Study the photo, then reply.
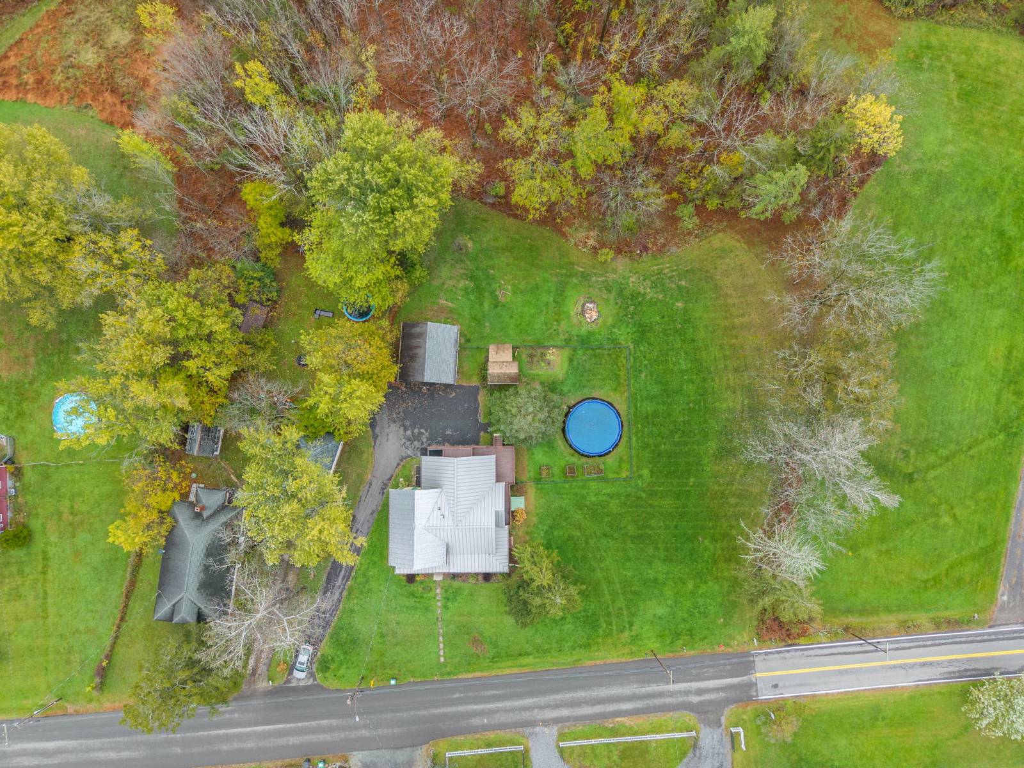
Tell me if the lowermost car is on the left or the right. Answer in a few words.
left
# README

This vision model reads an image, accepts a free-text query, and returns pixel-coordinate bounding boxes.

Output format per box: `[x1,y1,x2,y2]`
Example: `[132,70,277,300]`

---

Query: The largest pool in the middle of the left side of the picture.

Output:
[51,391,88,438]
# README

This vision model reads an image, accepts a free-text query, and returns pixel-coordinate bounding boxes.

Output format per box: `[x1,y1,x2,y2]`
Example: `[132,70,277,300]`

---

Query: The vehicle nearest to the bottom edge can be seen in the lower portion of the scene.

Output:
[293,642,314,679]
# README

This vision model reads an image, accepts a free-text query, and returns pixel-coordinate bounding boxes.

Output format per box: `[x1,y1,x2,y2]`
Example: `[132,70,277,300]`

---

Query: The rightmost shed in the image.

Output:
[487,344,518,384]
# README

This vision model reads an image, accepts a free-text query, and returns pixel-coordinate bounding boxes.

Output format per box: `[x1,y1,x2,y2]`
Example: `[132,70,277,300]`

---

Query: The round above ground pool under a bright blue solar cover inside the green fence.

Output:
[564,398,623,456]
